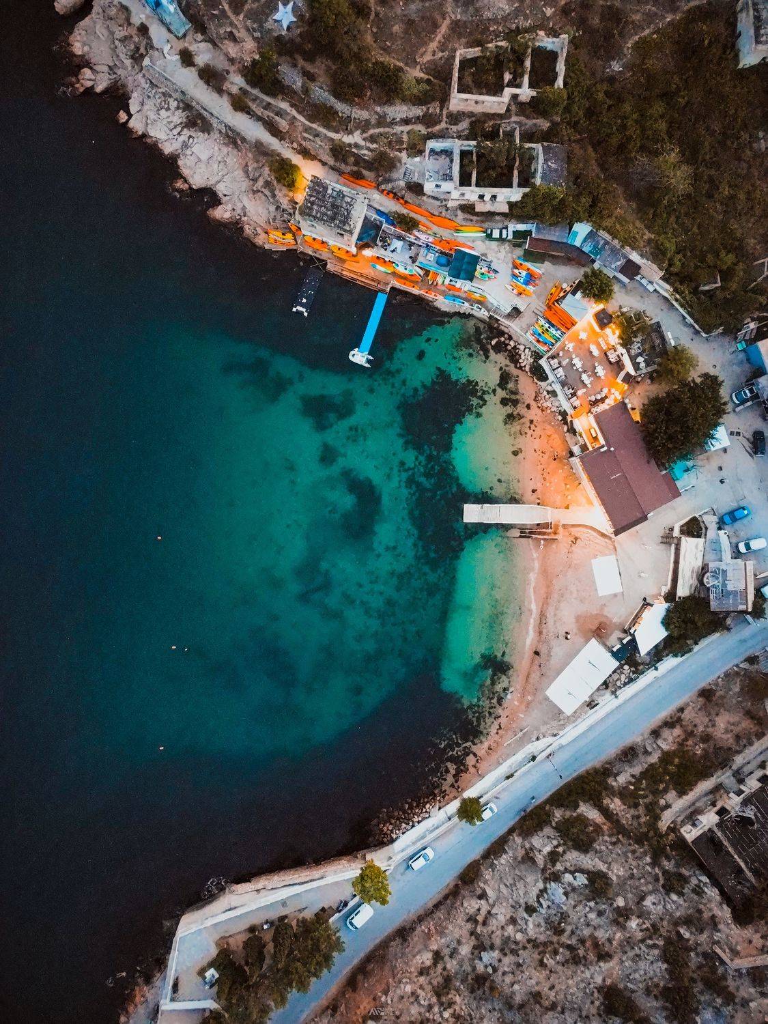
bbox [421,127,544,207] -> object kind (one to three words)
house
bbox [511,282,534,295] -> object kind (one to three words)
boat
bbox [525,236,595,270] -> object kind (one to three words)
shed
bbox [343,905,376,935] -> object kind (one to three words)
van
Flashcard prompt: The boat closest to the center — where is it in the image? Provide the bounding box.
[350,347,374,367]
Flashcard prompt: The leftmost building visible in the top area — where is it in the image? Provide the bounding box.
[300,175,368,251]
